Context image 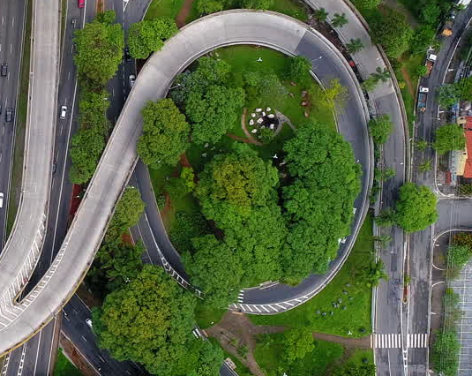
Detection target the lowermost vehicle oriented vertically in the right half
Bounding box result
[417,84,430,114]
